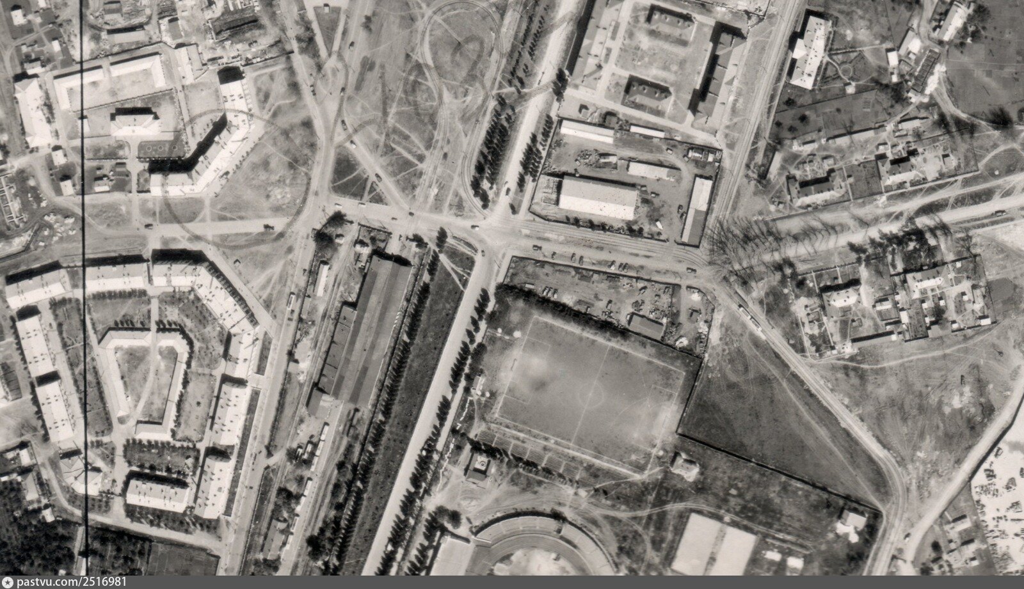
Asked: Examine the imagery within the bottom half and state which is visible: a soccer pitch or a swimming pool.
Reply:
soccer pitch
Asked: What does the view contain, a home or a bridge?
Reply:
home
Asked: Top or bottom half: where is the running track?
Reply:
bottom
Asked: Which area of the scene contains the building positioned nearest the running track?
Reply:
bottom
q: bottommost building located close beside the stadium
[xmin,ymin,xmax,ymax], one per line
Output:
[429,537,472,583]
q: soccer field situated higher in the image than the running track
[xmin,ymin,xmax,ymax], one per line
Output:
[496,317,686,475]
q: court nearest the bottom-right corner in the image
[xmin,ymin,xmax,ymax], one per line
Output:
[707,526,757,581]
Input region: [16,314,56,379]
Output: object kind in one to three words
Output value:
building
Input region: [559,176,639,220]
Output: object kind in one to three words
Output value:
building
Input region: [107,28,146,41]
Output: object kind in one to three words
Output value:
shed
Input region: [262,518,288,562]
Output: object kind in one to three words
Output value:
house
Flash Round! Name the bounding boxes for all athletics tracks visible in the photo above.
[462,536,602,589]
